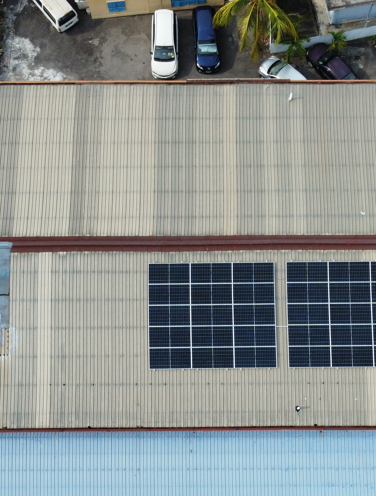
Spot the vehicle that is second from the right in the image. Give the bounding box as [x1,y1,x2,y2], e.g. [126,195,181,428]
[261,57,304,79]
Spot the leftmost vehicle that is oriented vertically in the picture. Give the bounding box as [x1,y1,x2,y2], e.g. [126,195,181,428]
[149,11,182,79]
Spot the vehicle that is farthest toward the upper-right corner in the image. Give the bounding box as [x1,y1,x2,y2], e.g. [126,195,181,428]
[308,43,362,78]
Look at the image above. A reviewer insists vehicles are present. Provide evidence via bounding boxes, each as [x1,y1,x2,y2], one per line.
[308,43,362,78]
[29,0,76,35]
[261,57,304,79]
[149,11,182,79]
[193,11,224,75]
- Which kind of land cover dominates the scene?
buildings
